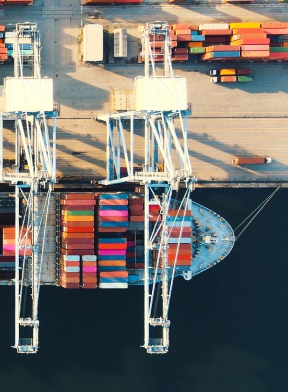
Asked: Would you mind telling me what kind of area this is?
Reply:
port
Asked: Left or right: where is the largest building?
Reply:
left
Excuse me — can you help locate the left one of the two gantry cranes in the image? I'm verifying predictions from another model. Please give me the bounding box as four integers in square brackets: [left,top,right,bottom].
[0,21,59,356]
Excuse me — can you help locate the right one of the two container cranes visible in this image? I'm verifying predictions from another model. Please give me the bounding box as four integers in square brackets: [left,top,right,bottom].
[90,21,200,356]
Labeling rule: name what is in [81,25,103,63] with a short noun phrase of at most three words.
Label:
building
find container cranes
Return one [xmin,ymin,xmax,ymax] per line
[90,21,200,356]
[0,21,59,356]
